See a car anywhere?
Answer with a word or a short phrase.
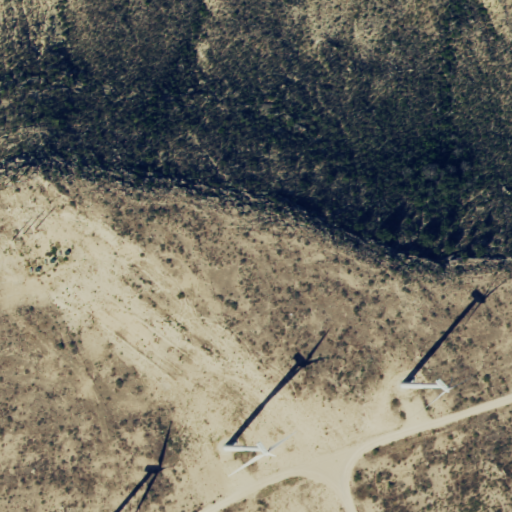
No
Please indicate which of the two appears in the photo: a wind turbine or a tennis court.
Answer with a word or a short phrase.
wind turbine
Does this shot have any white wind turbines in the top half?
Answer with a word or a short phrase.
No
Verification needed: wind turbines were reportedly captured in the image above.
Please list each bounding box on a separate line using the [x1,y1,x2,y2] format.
[220,434,292,470]
[398,358,467,408]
